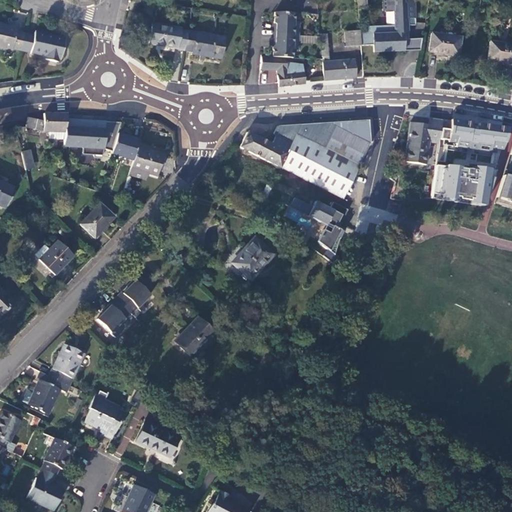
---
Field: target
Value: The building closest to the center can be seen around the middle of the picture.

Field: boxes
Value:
[232,236,276,281]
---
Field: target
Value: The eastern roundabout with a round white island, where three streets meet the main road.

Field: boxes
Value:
[180,92,237,148]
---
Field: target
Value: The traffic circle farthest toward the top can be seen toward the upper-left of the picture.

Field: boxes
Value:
[66,35,137,104]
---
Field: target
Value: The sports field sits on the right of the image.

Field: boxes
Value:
[344,236,512,466]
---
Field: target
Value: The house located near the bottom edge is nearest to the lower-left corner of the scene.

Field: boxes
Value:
[30,461,70,511]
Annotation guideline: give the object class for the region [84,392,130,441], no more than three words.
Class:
house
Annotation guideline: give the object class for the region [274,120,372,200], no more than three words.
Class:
building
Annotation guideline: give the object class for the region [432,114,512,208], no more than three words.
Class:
building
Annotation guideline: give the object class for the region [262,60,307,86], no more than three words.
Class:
house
